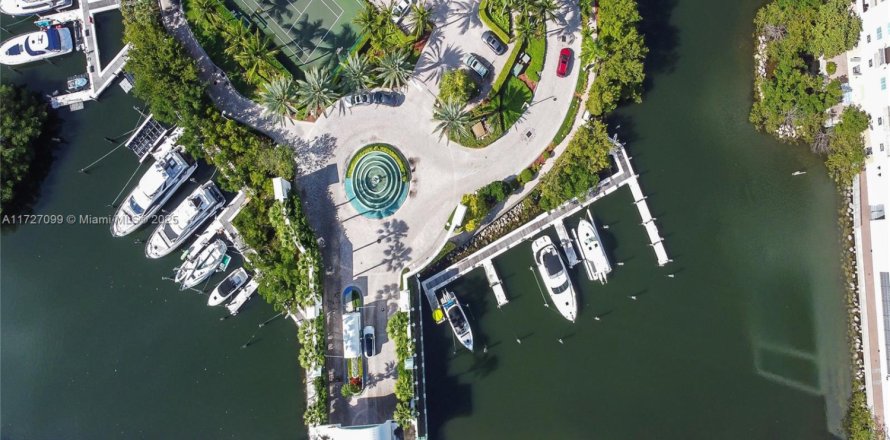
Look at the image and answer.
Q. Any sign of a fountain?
Yes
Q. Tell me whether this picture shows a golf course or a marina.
marina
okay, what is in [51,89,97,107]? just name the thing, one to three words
pier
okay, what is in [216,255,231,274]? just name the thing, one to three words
boat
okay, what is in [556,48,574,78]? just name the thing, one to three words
car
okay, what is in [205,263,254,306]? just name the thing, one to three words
boat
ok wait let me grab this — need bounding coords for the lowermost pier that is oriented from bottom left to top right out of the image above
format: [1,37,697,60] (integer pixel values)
[229,280,265,316]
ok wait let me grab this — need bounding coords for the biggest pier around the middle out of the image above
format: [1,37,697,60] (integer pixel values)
[419,170,637,293]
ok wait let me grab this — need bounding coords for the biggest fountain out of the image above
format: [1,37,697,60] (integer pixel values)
[342,141,413,221]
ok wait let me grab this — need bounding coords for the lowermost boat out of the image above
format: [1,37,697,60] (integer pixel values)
[438,290,474,351]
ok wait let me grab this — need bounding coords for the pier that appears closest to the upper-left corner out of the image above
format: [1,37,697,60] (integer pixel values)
[35,7,83,28]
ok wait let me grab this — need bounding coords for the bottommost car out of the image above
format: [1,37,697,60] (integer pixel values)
[362,325,376,357]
